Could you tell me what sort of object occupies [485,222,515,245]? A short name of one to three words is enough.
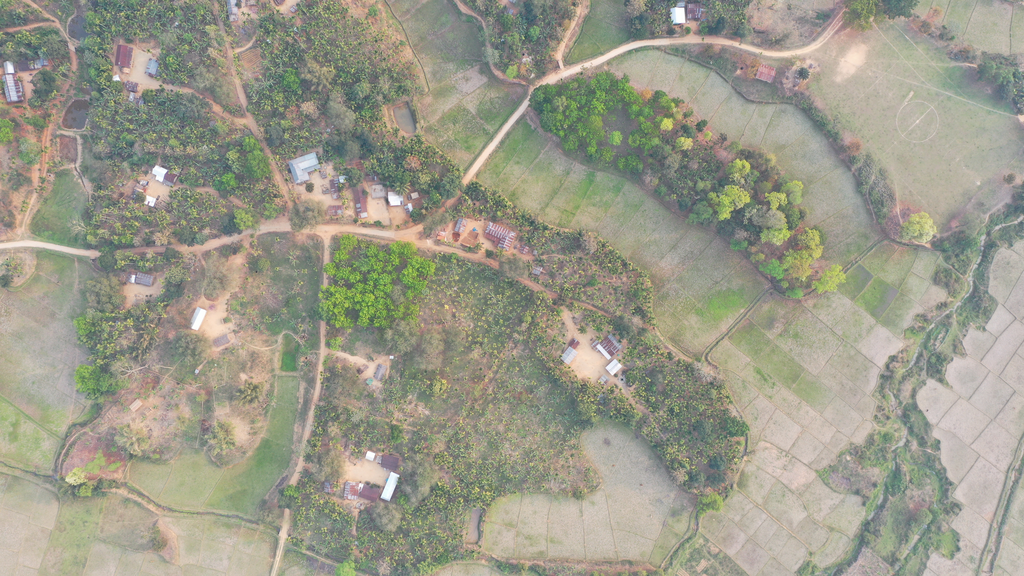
house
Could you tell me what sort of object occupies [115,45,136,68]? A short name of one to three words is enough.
house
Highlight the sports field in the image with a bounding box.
[803,22,1024,241]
